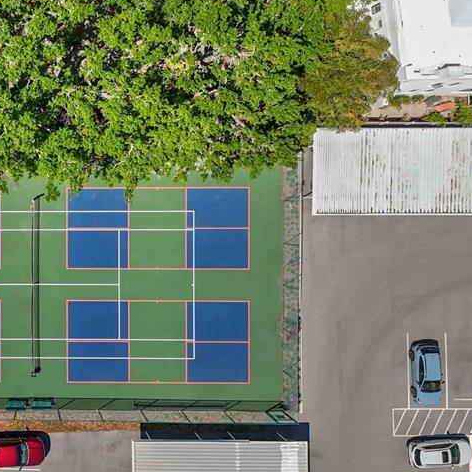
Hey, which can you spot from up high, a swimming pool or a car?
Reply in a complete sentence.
The one in the frame is a car.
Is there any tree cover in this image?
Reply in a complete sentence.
Yes, there is tree cover in the image.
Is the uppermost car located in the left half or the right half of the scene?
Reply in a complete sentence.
The uppermost car sits on the right side.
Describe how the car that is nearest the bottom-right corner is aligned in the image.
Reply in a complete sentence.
The car that is nearest the bottom-right corner has been laid out from side to side relative to the frame.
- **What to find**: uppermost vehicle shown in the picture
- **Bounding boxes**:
[408,344,444,406]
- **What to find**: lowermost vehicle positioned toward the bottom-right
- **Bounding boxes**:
[405,437,471,471]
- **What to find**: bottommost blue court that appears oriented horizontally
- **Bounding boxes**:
[67,300,250,384]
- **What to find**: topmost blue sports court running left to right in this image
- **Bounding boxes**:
[67,187,250,270]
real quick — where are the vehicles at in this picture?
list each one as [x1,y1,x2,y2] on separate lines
[0,436,43,472]
[408,344,444,406]
[405,437,471,471]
